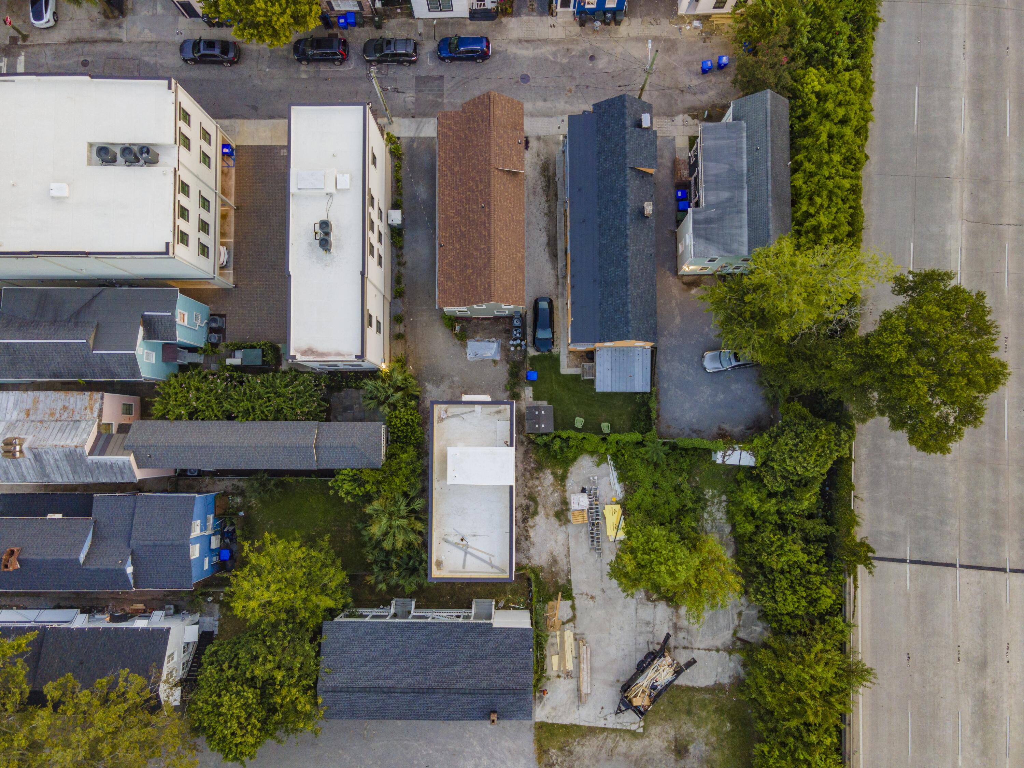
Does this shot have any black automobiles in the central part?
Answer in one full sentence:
Yes, in the central part there is a black automobile.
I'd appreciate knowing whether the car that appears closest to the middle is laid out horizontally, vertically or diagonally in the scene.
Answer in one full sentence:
The car that appears closest to the middle is oriented vertically.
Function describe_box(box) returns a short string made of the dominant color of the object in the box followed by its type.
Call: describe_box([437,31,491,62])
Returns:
blue car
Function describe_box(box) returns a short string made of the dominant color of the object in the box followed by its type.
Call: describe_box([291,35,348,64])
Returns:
black car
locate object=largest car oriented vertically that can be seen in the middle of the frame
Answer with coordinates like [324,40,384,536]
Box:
[531,296,557,353]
